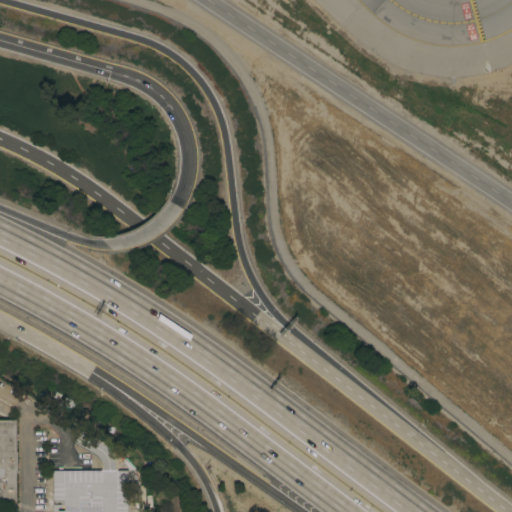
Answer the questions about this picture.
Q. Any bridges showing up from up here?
Yes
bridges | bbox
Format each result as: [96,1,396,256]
[103,198,186,251]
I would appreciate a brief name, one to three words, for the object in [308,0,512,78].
airport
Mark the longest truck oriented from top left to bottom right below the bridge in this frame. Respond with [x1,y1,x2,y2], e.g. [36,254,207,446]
[151,310,194,340]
